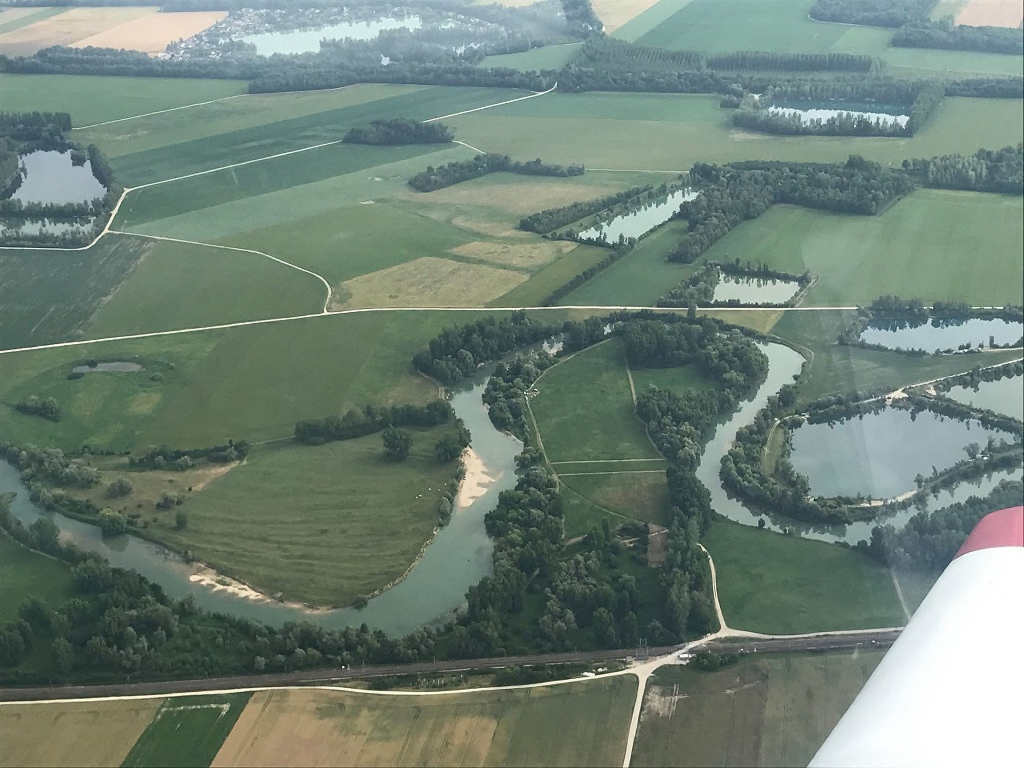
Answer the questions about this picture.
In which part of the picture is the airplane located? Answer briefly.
bottom right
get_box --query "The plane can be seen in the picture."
[806,504,1024,768]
